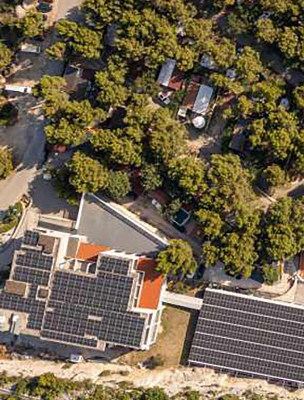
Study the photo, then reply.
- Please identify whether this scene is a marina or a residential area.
residential area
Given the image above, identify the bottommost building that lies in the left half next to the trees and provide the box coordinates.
[0,227,178,353]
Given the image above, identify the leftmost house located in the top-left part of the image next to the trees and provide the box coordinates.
[65,68,86,91]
